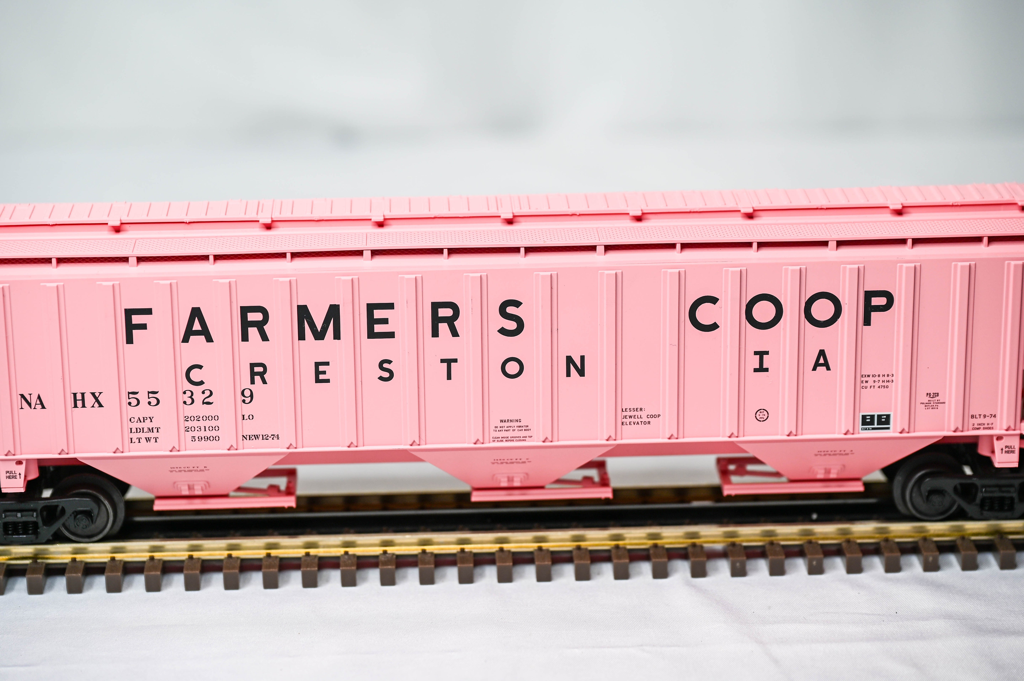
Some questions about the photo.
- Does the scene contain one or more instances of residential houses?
No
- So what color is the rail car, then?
pink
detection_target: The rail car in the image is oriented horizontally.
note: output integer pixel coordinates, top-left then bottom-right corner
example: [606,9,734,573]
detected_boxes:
[0,184,1024,544]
